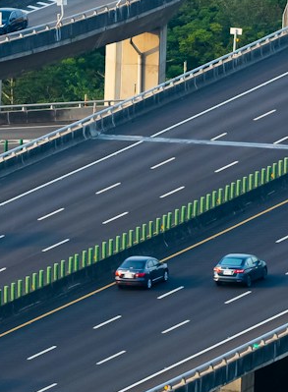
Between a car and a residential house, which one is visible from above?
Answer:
car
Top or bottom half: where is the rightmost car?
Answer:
bottom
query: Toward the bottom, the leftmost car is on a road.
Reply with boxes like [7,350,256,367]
[118,254,175,288]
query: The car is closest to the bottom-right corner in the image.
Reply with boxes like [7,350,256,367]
[217,252,273,287]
